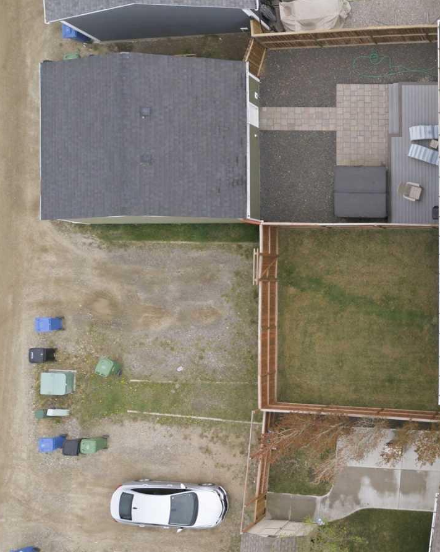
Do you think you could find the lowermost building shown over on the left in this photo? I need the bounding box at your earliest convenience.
[38,50,260,224]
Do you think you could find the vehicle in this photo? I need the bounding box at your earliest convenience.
[111,477,233,537]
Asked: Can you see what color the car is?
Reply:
white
